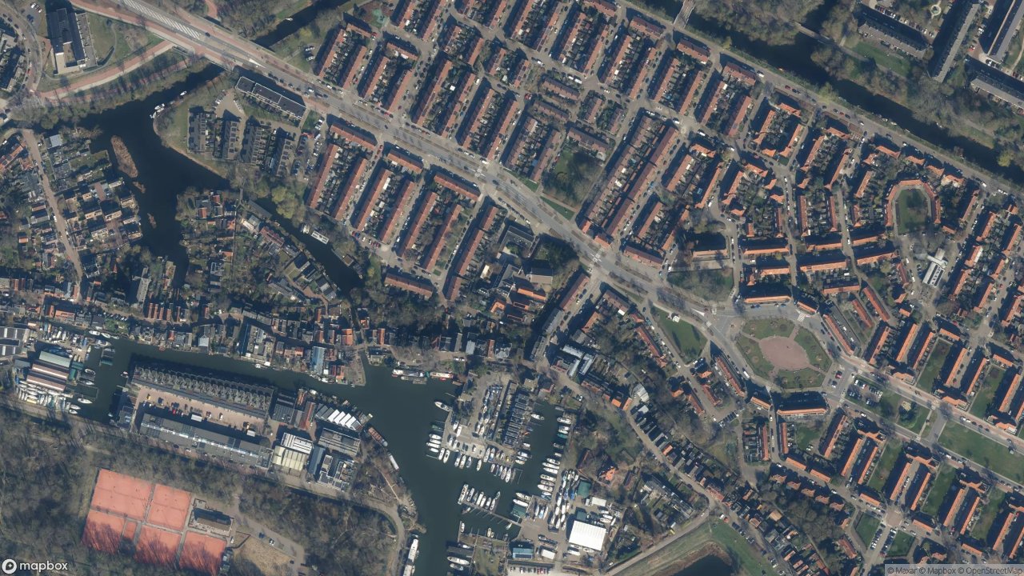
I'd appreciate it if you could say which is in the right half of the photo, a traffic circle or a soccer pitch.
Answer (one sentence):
It is a traffic circle that can be seen in the right half of the photo.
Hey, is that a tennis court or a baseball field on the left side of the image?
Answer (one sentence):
There is a tennis court on the left side of the image.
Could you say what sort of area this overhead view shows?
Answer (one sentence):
The area seen from above is a residential area.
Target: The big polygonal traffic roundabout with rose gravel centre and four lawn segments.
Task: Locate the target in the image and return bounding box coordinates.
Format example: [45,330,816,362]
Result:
[724,308,845,400]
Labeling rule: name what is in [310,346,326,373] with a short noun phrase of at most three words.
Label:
building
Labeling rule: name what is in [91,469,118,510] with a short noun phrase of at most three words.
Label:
tennis court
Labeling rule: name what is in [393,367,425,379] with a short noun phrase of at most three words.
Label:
vessel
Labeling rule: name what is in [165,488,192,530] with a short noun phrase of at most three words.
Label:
tennis court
